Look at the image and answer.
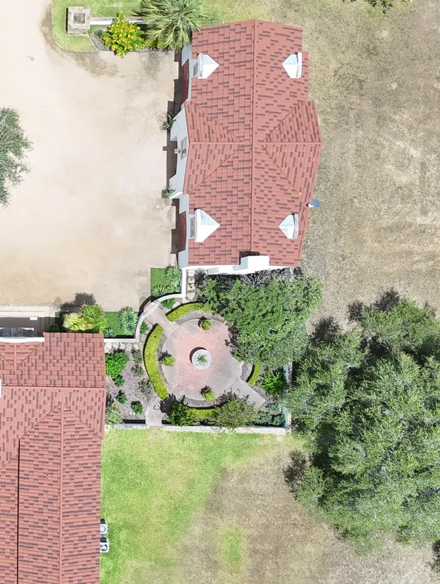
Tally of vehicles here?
0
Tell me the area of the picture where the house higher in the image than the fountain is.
top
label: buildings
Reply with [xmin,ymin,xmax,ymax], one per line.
[0,327,109,584]
[171,17,322,274]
